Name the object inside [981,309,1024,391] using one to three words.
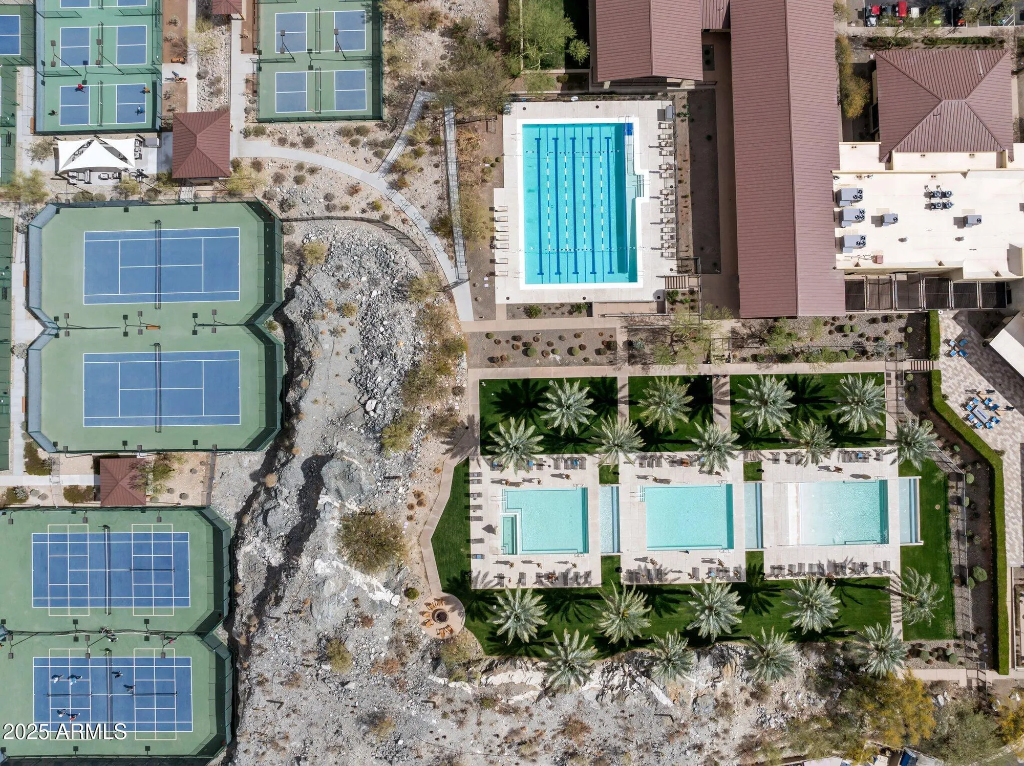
building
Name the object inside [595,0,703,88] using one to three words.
building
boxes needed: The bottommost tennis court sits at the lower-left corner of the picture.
[0,632,234,763]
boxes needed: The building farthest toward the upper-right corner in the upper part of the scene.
[865,48,1015,163]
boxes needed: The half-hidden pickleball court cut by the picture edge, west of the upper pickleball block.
[0,4,34,65]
